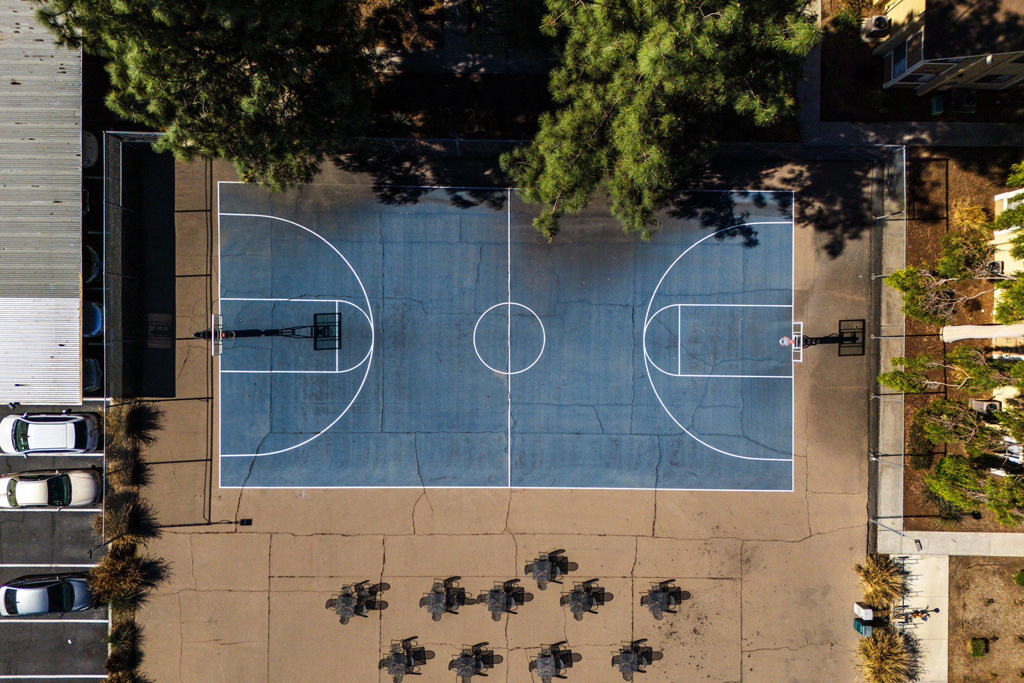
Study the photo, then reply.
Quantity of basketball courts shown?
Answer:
one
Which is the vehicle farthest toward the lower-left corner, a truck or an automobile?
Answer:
automobile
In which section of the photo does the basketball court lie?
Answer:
center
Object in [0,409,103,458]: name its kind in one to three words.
car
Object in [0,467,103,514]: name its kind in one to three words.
car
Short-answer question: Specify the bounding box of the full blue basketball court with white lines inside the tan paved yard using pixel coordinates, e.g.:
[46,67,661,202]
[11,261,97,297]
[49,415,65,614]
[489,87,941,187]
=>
[218,181,794,491]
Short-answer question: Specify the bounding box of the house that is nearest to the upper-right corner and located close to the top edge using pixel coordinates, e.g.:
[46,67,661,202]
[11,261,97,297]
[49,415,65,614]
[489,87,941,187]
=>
[874,0,1024,96]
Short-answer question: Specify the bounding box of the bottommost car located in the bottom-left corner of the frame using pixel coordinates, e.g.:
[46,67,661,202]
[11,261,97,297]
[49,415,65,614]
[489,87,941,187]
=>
[1,570,105,619]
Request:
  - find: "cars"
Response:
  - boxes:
[0,409,103,458]
[84,356,108,394]
[1,570,105,619]
[83,131,104,173]
[82,246,108,285]
[0,467,103,514]
[80,301,109,339]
